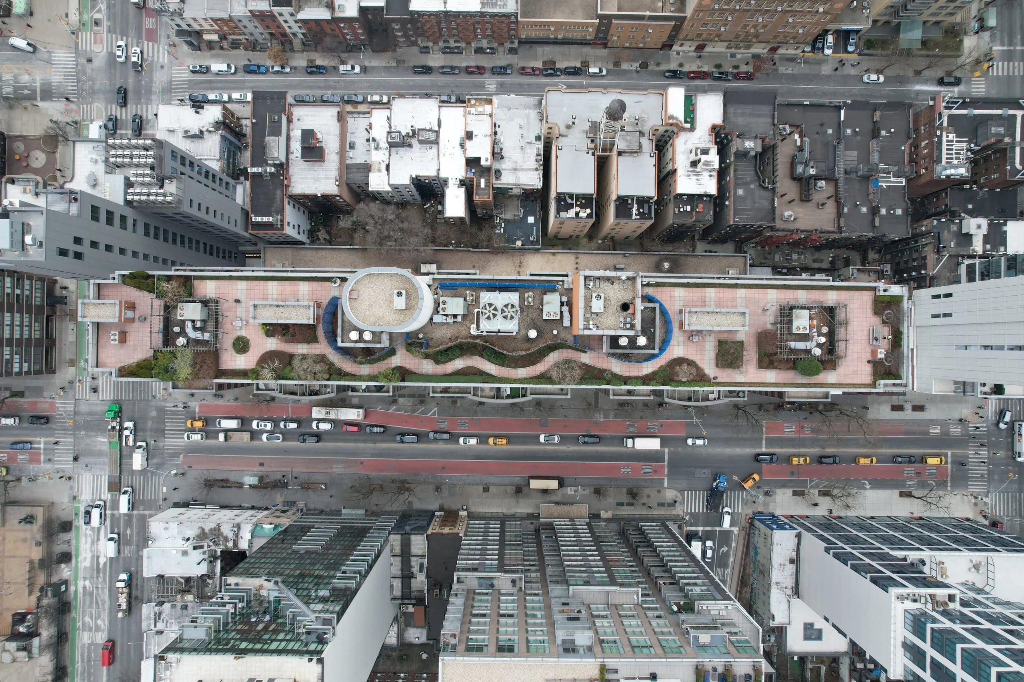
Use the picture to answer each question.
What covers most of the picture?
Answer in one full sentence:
The scene is dominated by buildings.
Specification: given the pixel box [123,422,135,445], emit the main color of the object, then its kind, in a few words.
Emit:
white vehicle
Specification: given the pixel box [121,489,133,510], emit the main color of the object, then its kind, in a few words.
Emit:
white vehicle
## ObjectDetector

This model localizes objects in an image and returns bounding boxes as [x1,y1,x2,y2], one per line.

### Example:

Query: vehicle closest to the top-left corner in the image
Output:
[9,37,33,52]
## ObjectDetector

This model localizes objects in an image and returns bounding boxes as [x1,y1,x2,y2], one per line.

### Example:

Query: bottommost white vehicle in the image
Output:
[117,575,131,619]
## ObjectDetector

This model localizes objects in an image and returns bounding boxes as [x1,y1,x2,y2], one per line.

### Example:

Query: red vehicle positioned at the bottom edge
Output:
[101,640,115,669]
